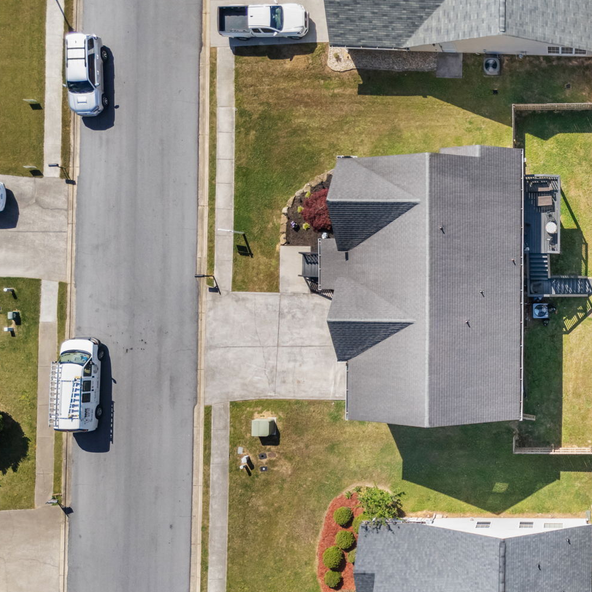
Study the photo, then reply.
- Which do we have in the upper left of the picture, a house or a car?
car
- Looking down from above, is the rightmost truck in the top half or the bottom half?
top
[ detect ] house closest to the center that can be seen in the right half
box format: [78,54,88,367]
[298,144,527,429]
